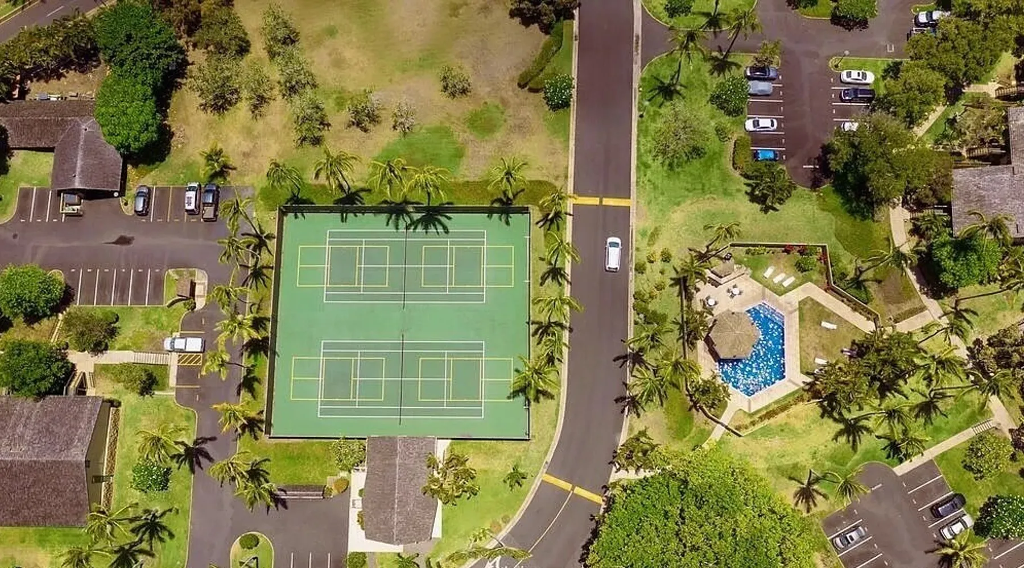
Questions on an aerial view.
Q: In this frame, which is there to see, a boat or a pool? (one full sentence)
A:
The one in the frame is a pool.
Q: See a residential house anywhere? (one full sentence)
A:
Yes, a residential house is visible in the scene.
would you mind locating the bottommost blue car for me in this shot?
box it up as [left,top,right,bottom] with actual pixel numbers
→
[752,148,780,162]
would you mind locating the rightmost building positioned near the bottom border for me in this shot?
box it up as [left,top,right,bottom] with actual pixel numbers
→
[362,438,438,545]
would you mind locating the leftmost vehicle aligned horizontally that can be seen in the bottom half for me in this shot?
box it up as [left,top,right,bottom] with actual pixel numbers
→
[164,336,206,352]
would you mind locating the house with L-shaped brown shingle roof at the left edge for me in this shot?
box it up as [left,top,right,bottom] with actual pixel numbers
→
[0,100,124,192]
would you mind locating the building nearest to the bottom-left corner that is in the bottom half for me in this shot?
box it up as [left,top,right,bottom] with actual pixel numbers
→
[0,396,111,527]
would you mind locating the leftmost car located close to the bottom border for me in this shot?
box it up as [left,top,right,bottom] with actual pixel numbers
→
[831,526,866,549]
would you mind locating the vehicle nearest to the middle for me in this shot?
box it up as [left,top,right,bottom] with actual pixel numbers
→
[605,237,622,272]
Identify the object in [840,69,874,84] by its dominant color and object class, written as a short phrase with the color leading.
white car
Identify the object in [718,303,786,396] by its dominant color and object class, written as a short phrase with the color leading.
blue swimming pool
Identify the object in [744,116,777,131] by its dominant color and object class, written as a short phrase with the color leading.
white car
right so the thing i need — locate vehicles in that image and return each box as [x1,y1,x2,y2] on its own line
[747,80,774,94]
[938,515,975,540]
[831,526,866,549]
[914,10,947,26]
[185,182,203,215]
[929,494,968,519]
[752,148,780,162]
[164,336,206,352]
[744,116,777,131]
[133,186,152,216]
[202,183,220,221]
[840,69,874,84]
[744,65,777,80]
[839,87,875,103]
[605,237,622,272]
